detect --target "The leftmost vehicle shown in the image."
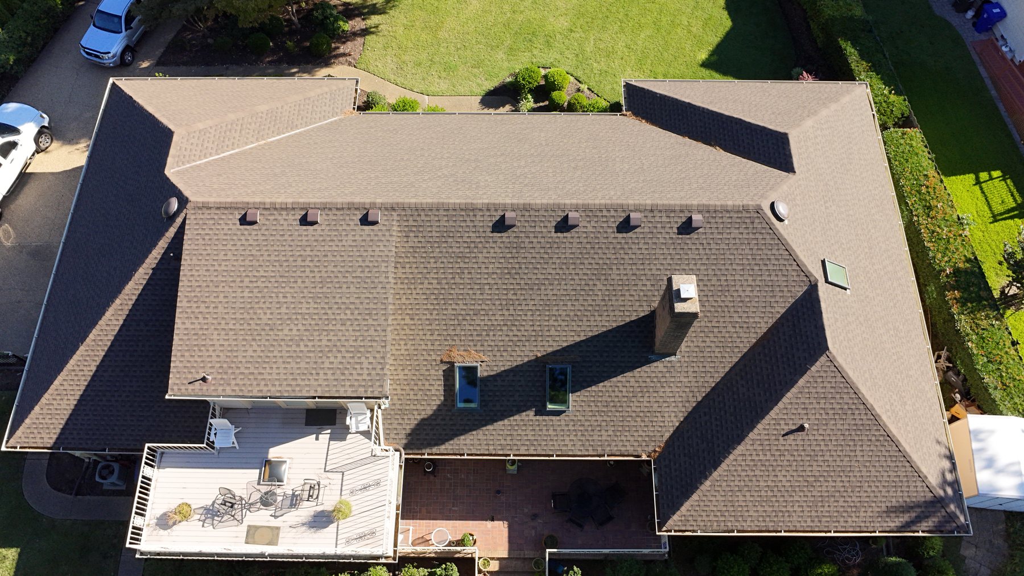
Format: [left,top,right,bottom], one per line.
[0,100,51,206]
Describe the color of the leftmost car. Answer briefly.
white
